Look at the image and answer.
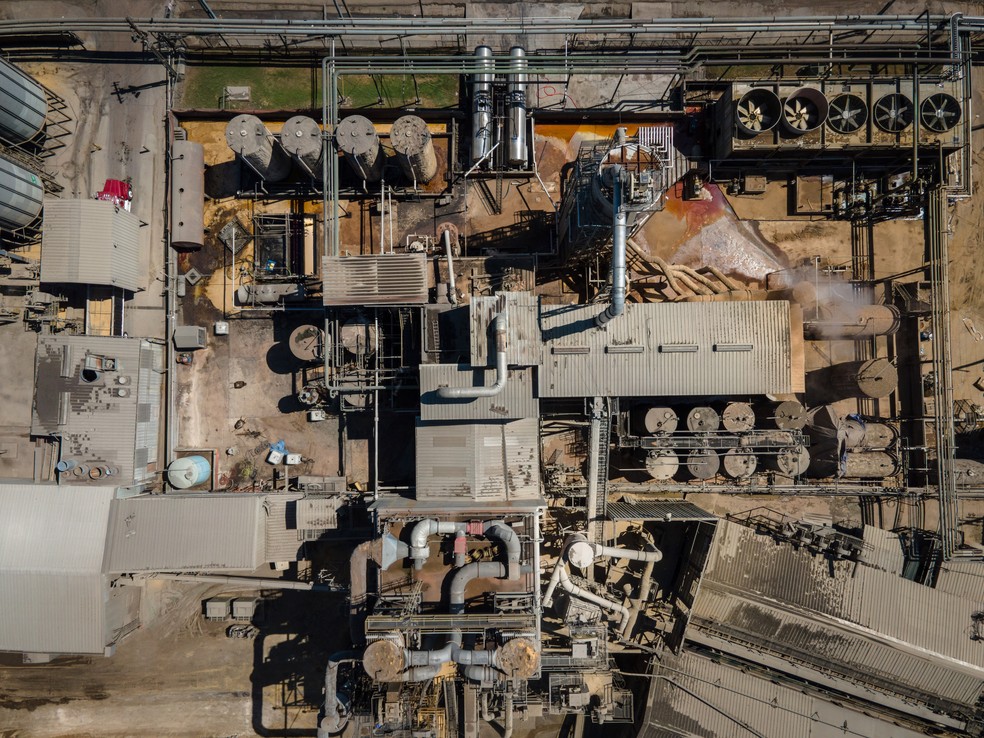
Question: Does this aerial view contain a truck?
Yes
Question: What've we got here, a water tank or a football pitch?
water tank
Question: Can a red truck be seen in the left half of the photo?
Yes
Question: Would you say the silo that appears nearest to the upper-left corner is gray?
Yes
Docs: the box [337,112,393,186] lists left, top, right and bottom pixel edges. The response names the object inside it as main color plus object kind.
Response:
gray storage tank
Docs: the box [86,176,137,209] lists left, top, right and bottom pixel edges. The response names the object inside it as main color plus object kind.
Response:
red truck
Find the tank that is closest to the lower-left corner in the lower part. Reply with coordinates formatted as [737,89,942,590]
[152,453,216,490]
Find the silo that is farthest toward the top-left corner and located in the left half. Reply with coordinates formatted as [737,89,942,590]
[0,54,76,156]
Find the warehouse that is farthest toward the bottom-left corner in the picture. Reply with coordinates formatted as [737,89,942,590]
[0,475,148,656]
